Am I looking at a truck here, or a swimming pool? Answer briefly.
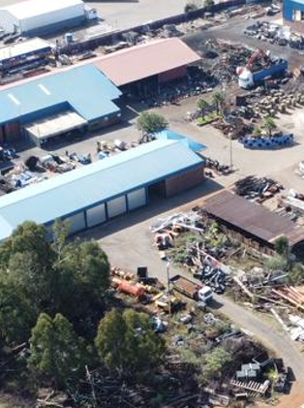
truck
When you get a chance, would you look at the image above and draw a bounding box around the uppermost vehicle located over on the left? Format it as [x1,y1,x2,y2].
[84,6,103,19]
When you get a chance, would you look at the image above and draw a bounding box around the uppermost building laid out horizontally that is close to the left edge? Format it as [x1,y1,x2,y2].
[0,0,85,40]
